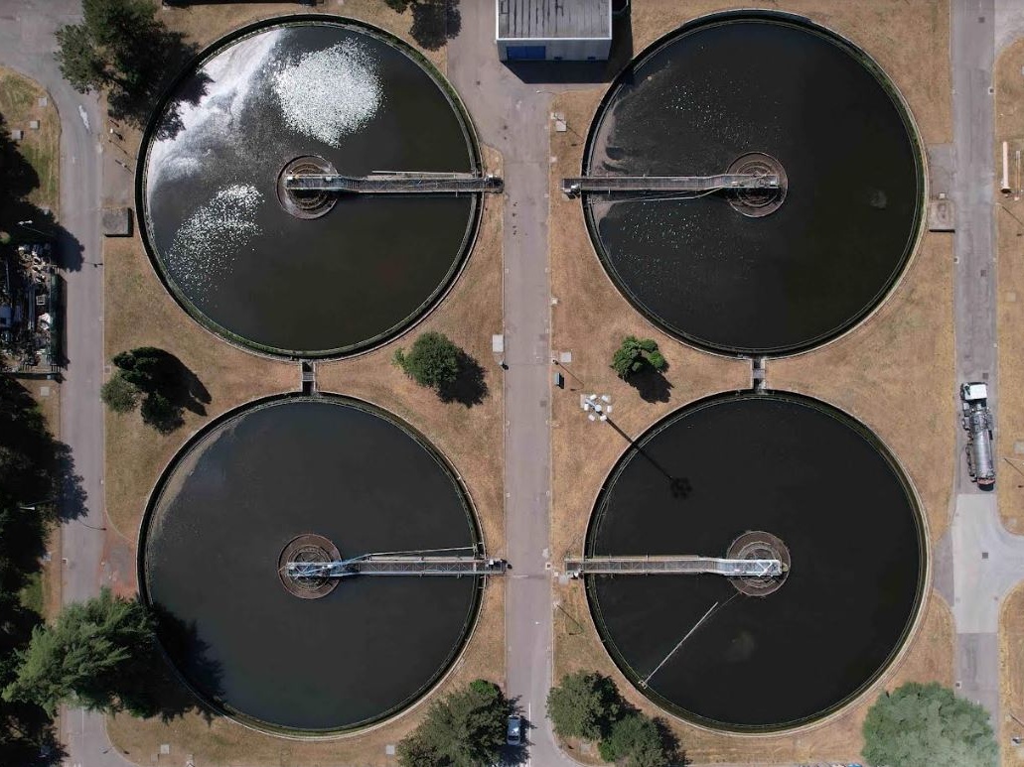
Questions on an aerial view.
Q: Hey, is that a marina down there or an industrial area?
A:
industrial area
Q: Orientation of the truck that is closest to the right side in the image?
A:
from top to bottom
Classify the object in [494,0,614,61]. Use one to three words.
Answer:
shed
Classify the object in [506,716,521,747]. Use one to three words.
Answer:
car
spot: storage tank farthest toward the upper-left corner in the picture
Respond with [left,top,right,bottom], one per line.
[135,12,484,362]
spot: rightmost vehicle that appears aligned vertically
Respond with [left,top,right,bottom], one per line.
[960,383,997,487]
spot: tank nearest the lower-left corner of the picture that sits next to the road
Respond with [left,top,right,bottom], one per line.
[136,389,486,739]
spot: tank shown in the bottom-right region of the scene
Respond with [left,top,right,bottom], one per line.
[584,389,933,738]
